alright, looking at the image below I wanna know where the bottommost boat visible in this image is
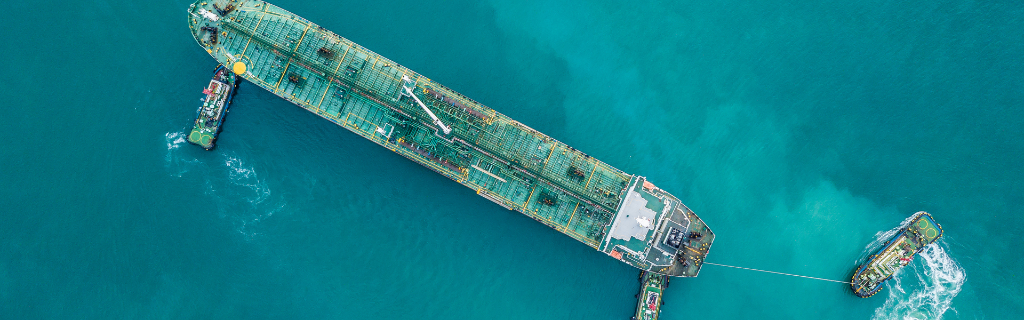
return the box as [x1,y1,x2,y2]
[632,270,669,320]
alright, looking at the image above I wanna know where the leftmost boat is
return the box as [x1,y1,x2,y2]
[186,63,240,150]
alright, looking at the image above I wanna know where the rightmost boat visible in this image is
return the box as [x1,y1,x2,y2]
[852,216,944,301]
